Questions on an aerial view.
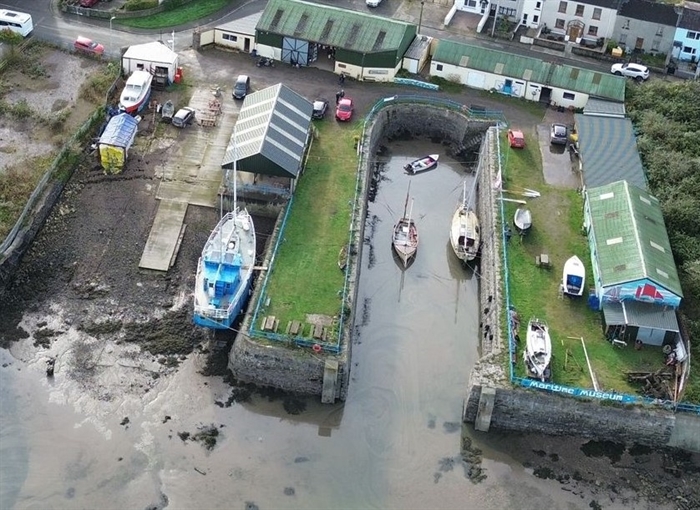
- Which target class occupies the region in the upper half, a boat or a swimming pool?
boat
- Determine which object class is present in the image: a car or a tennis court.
car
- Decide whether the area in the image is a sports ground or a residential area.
residential area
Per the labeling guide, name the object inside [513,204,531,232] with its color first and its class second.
white boat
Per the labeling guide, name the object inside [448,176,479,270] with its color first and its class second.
white boat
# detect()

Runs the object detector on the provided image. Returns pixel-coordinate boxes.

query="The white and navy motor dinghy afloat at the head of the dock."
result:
[403,152,439,178]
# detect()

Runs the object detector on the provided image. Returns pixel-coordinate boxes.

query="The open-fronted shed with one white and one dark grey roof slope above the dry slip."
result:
[219,85,318,199]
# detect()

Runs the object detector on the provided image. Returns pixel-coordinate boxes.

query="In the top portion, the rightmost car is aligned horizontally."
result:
[612,62,649,79]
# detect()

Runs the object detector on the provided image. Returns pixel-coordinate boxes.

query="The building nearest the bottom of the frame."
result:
[578,179,686,355]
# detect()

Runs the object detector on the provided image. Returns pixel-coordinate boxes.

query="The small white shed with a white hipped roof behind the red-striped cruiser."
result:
[118,41,187,84]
